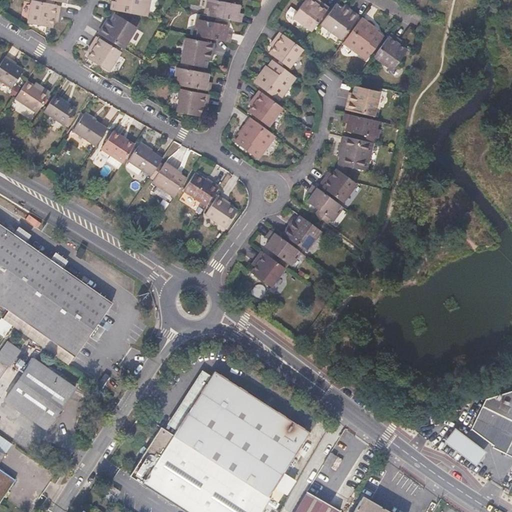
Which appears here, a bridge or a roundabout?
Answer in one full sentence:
The one in the frame is a roundabout.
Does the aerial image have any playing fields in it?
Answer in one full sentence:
No, I find no playing field anywhere in the image.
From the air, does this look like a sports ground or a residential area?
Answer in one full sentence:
This looks like a residential area.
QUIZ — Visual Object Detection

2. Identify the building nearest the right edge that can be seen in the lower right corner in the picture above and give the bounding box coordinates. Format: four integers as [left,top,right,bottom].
[471,394,512,457]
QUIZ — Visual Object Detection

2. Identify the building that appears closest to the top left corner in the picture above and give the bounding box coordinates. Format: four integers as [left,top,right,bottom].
[26,1,60,28]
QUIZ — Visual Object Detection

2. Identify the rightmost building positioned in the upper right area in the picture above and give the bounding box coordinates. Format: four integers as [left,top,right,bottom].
[374,34,408,72]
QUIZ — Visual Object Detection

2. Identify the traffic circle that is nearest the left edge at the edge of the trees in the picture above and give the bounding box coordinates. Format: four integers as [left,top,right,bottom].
[162,270,226,334]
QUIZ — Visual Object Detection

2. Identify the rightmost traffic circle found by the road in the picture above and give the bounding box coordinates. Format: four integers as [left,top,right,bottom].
[248,170,292,216]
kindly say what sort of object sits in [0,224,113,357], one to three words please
building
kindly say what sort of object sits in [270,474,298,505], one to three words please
shed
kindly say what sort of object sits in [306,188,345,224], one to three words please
house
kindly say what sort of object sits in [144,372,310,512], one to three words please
warehouse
